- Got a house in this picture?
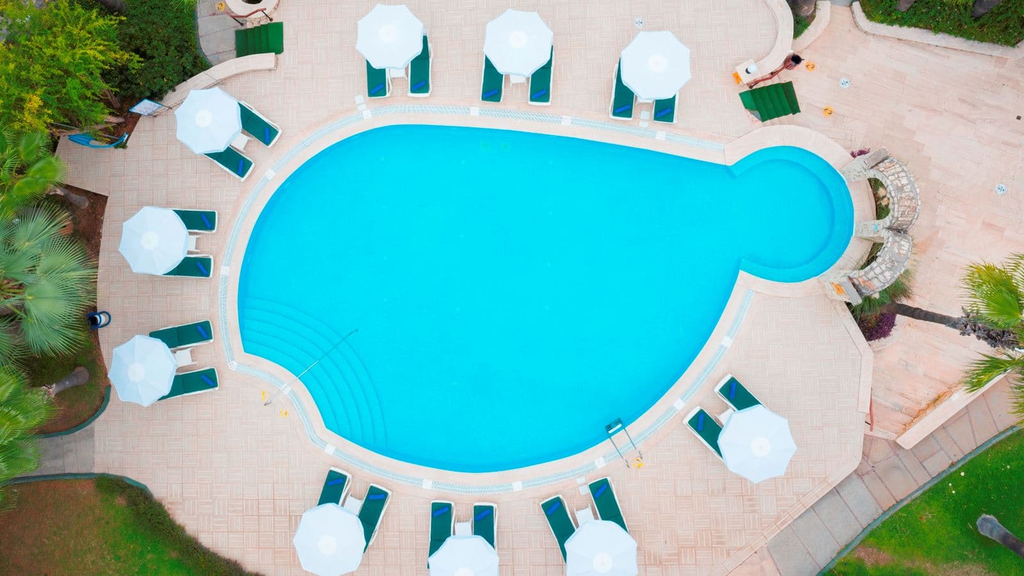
No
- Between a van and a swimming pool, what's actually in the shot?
swimming pool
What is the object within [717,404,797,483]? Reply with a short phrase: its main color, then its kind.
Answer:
white umbrella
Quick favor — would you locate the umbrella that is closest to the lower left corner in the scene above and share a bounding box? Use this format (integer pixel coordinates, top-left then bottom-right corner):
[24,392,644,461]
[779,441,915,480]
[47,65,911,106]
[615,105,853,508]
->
[106,336,176,405]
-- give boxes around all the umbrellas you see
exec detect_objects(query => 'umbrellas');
[430,538,497,576]
[176,88,242,153]
[567,520,635,576]
[293,502,367,576]
[106,336,176,405]
[356,4,422,70]
[717,404,797,483]
[485,7,553,76]
[120,207,191,276]
[622,32,688,99]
